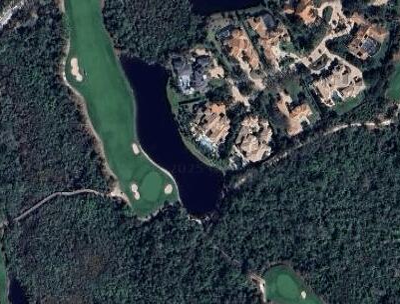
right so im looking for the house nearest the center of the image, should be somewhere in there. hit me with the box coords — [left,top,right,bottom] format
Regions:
[193,99,235,153]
